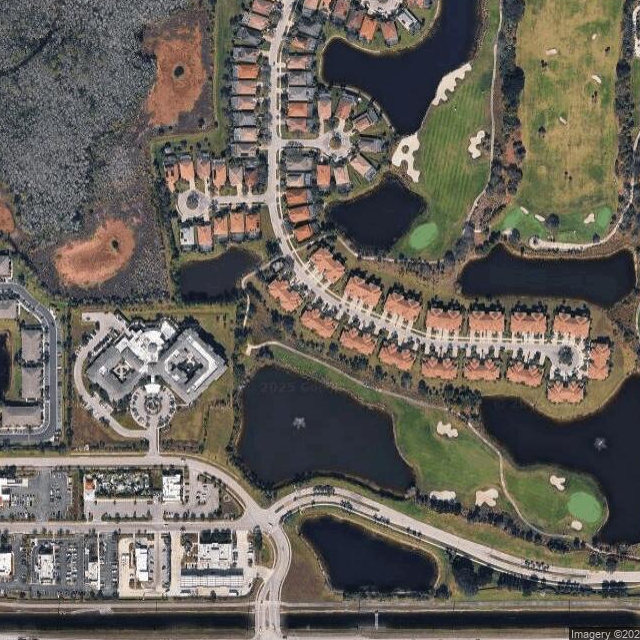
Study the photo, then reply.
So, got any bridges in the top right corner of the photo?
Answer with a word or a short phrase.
No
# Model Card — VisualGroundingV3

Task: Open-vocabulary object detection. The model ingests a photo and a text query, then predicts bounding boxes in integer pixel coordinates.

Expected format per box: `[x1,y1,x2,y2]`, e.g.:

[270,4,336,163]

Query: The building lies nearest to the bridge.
[198,544,233,569]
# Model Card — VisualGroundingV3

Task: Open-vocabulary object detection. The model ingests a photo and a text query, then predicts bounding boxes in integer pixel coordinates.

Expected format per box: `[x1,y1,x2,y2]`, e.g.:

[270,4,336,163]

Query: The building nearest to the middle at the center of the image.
[301,307,338,338]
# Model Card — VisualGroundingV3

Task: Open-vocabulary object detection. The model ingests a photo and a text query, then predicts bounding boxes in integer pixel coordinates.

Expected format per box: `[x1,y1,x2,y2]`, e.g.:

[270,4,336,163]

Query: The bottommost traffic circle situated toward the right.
[548,334,583,369]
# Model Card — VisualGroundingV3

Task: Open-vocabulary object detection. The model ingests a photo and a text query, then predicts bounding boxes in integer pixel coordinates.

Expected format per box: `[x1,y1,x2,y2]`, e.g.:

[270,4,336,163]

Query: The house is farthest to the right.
[588,343,612,379]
